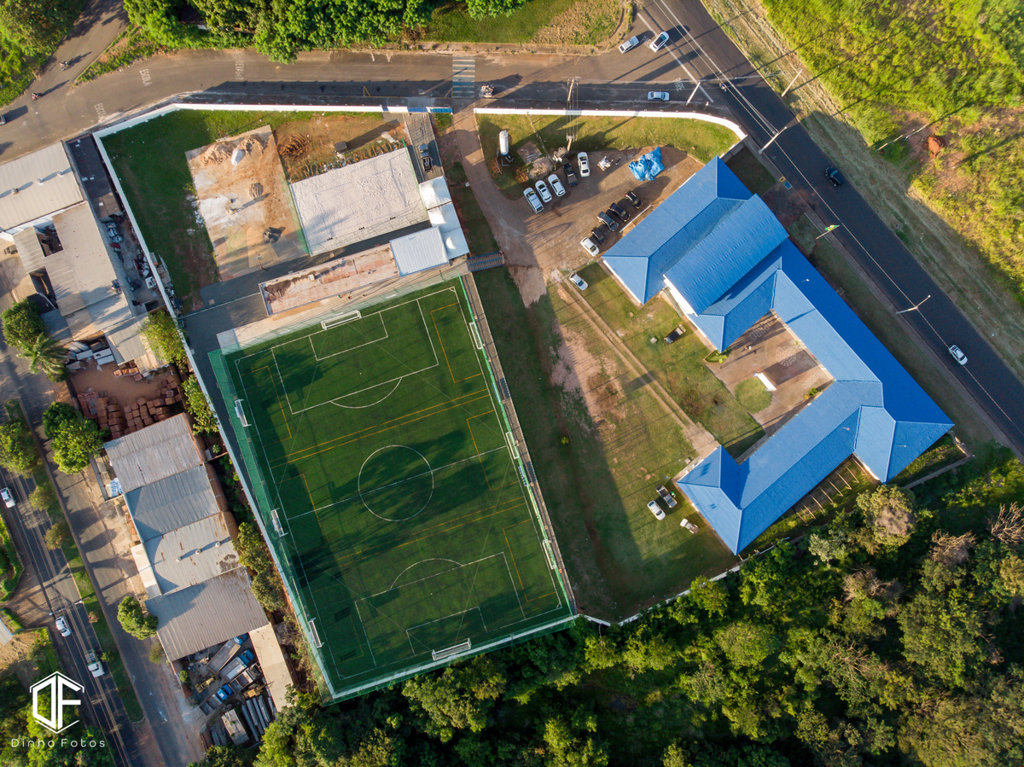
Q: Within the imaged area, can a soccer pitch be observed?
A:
Yes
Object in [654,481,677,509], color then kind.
gray truck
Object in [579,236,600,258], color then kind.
white car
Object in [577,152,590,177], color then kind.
white vehicle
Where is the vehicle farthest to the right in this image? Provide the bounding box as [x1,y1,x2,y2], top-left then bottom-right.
[946,343,968,367]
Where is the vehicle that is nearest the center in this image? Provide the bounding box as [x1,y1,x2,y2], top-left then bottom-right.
[568,270,589,293]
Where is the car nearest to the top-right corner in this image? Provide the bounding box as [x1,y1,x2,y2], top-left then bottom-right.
[822,165,845,188]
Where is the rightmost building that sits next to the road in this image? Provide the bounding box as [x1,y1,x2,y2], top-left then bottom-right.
[602,155,955,555]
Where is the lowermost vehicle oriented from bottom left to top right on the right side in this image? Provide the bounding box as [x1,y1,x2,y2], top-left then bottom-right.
[662,321,689,346]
